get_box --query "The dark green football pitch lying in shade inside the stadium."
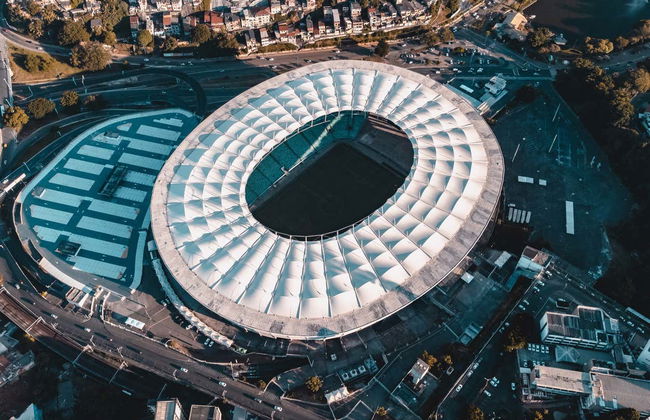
[252,132,406,239]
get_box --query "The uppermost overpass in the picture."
[90,63,206,117]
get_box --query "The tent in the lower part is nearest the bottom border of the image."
[322,386,351,407]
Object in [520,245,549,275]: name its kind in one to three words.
building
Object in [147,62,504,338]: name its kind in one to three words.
stadium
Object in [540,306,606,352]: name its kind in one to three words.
building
